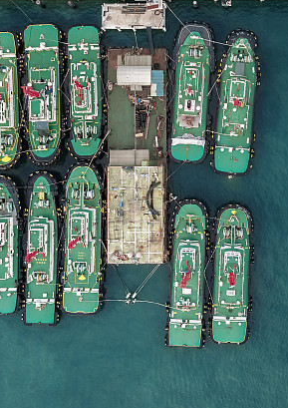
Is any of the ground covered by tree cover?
No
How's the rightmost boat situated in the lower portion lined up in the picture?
up and down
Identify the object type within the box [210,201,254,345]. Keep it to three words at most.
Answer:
boat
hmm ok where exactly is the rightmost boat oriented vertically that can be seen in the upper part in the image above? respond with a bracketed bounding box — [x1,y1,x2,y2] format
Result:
[213,27,261,179]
